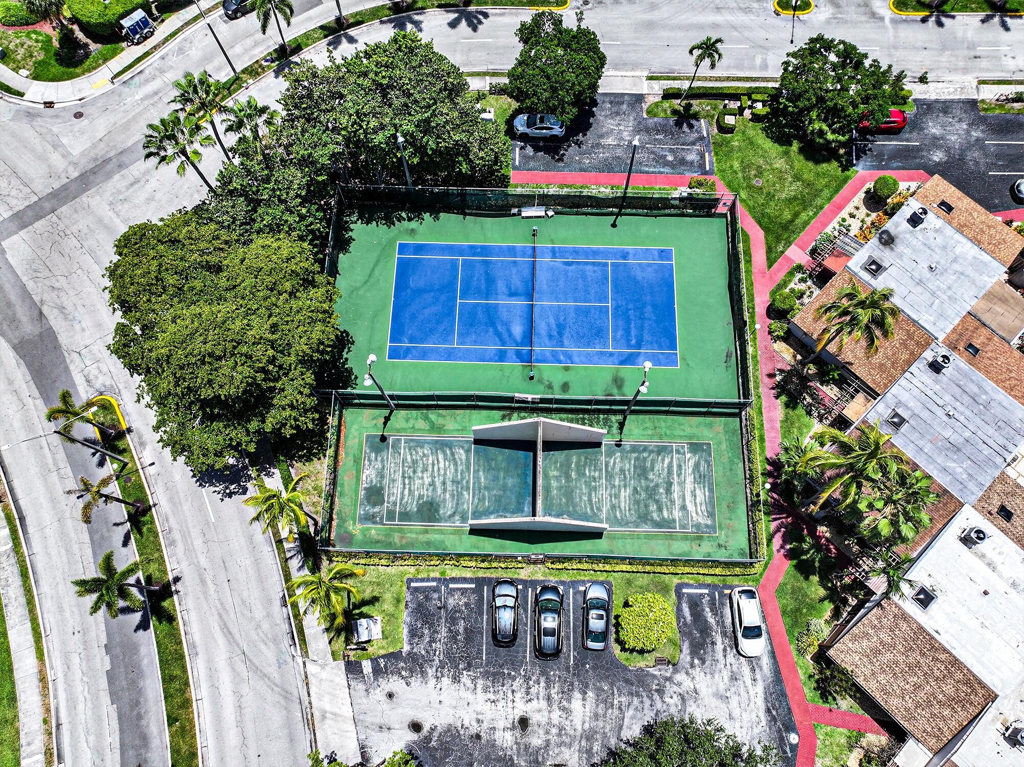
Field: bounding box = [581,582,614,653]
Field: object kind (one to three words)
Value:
car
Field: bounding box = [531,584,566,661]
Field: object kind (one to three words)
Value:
car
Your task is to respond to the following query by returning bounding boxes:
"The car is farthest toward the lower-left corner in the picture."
[487,579,521,647]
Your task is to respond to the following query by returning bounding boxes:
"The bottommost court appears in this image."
[332,403,751,563]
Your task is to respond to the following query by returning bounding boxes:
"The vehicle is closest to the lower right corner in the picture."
[730,586,769,658]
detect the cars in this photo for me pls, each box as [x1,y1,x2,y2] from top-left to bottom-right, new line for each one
[730,586,769,658]
[1008,181,1024,205]
[531,584,566,661]
[222,0,265,21]
[487,579,521,647]
[581,582,614,653]
[854,107,909,135]
[514,113,565,140]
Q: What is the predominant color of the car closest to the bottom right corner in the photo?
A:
white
